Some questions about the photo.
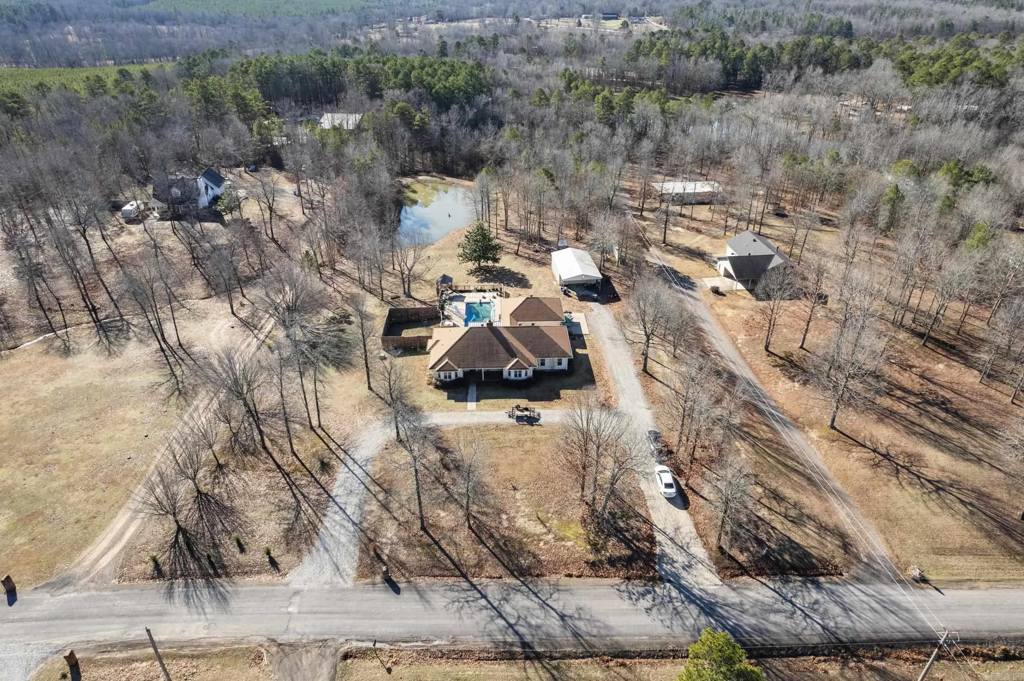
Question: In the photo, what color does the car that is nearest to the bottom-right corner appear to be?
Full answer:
The car that is nearest to the bottom-right corner is white.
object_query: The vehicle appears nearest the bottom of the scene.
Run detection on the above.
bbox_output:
[656,465,676,494]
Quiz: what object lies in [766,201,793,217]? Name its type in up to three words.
shed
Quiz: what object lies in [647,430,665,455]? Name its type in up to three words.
car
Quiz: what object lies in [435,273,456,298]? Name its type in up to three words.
gazebo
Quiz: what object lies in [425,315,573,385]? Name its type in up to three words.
house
